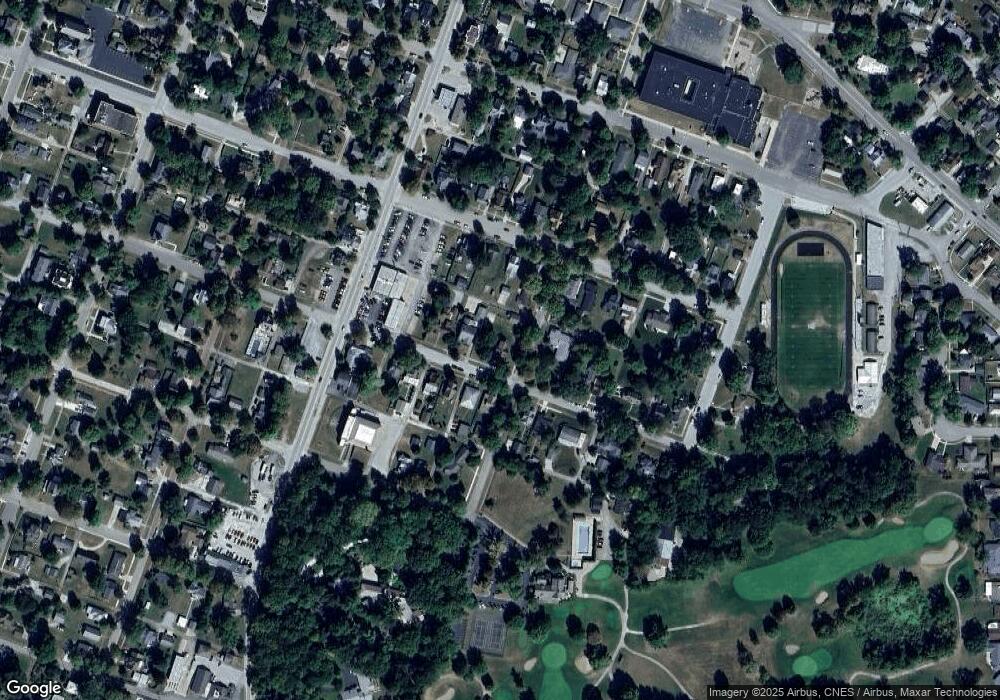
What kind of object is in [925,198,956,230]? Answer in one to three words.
barn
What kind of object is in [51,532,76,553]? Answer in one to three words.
house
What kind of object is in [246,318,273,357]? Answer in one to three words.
building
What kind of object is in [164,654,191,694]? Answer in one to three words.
building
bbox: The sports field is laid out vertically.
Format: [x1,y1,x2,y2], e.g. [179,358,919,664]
[778,261,848,400]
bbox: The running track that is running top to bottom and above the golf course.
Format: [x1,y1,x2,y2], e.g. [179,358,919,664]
[771,229,853,413]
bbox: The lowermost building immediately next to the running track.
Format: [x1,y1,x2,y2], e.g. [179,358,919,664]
[858,361,878,383]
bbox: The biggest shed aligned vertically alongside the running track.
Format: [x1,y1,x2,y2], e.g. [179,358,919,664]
[867,222,884,276]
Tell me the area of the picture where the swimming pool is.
bottom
